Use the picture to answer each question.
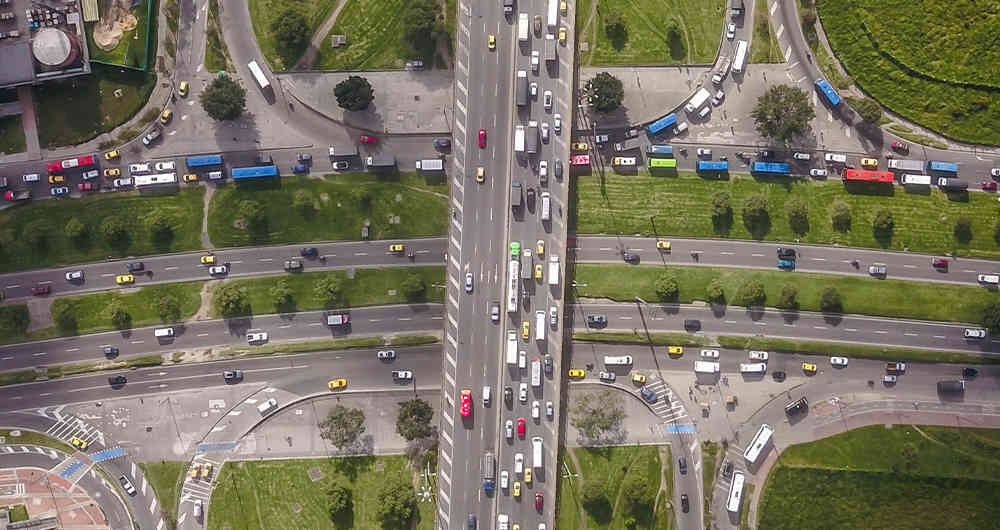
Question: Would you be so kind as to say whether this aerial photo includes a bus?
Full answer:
Yes, you can see a bus in this photo.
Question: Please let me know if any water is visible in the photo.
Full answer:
No, the scene doesn't show any water.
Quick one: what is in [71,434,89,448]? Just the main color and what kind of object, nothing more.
yellow vehicle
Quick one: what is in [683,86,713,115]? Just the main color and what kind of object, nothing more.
white truck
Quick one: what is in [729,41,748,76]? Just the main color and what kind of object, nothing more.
white vehicle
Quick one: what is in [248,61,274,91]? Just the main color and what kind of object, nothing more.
white bus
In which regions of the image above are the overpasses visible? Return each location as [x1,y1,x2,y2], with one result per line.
[437,0,576,530]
